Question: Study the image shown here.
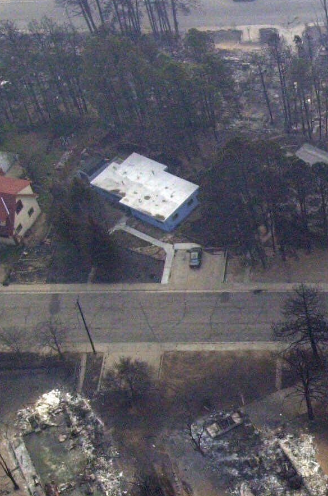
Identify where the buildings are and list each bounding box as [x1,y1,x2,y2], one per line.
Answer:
[293,137,328,168]
[90,153,197,231]
[0,162,47,244]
